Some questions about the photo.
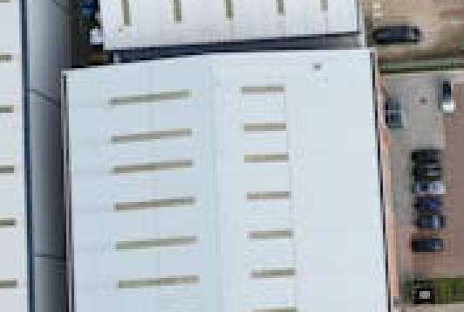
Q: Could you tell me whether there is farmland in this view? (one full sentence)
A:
No, the picture contains no farmland.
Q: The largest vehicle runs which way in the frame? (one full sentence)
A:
The largest vehicle runs horizontally in the image.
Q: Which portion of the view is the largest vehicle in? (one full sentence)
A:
Look in the top right portion of the view to spot the largest vehicle.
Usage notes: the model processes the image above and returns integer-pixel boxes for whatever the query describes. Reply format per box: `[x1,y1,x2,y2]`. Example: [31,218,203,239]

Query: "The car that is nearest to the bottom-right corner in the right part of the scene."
[411,237,444,252]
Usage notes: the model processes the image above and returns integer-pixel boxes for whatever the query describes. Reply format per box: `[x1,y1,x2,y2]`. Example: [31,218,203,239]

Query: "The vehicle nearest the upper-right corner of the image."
[375,24,417,44]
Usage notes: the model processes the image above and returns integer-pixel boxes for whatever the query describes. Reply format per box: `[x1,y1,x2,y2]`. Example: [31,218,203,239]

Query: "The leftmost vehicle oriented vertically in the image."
[386,98,402,131]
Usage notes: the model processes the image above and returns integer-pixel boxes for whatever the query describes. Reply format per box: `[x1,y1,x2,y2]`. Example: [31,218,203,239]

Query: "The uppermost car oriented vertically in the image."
[440,81,456,113]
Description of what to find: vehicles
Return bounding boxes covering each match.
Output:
[411,164,442,179]
[440,81,456,113]
[415,180,446,194]
[413,196,443,211]
[375,24,417,44]
[411,149,442,164]
[386,98,402,131]
[411,237,444,252]
[415,214,446,228]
